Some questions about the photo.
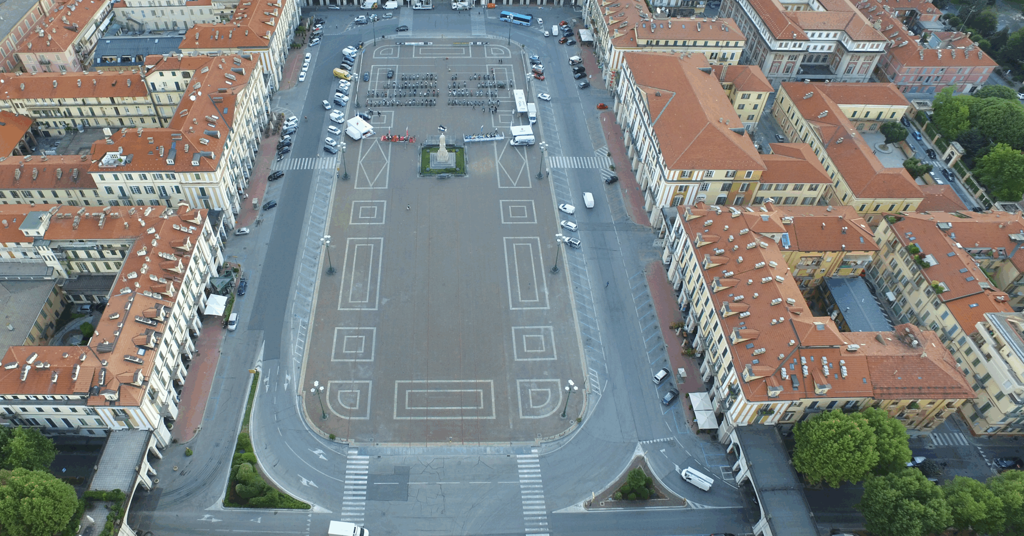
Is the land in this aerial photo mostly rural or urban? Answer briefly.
urban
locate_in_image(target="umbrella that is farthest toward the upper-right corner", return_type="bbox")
[579,30,593,44]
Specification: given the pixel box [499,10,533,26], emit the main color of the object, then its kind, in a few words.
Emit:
blue vehicle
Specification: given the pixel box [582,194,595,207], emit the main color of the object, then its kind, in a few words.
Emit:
white vehicle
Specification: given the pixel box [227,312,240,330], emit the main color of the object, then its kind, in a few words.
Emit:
white vehicle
